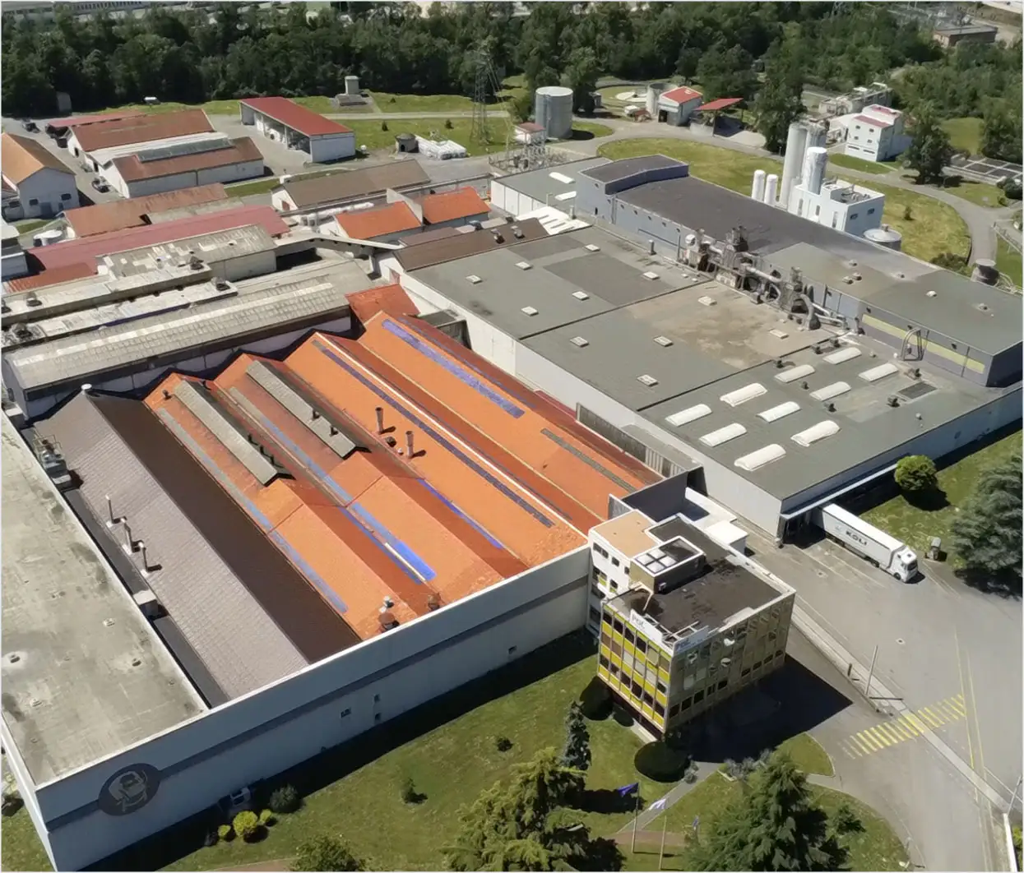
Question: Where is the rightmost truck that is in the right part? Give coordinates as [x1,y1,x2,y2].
[814,503,921,581]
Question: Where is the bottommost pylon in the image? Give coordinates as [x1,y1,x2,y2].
[459,46,493,145]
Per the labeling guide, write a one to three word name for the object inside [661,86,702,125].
building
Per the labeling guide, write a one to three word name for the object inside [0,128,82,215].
house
